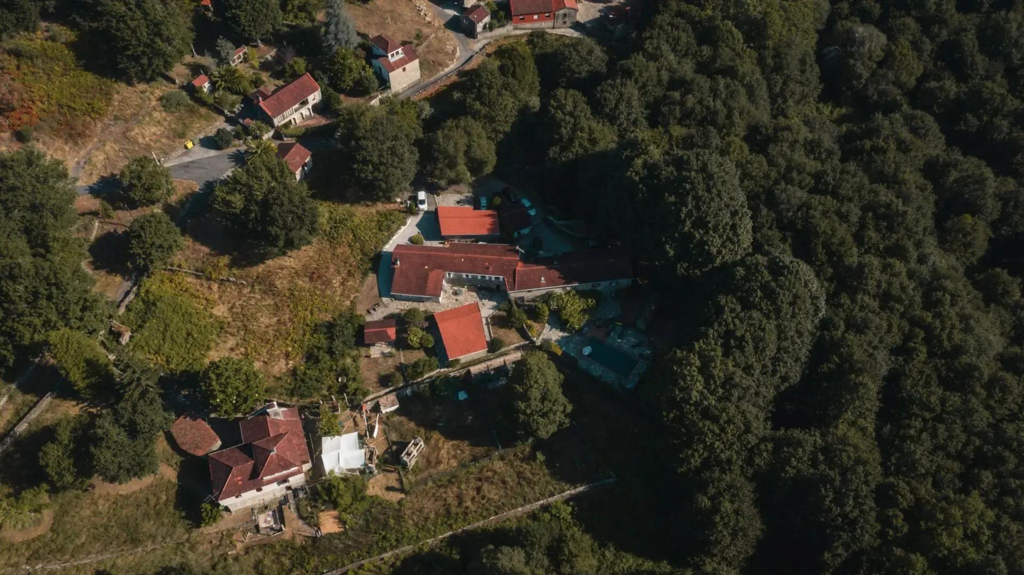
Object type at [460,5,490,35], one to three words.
house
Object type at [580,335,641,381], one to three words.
swimming pool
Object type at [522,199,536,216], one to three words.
car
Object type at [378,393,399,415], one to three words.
shed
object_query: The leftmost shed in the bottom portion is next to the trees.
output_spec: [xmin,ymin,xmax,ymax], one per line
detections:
[171,414,223,460]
